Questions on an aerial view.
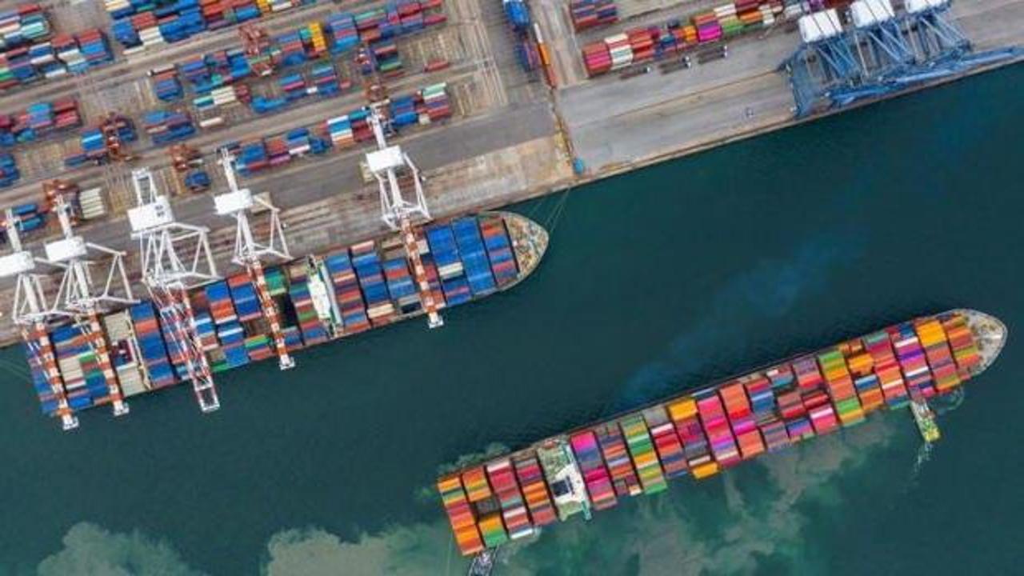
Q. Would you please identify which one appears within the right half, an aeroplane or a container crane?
container crane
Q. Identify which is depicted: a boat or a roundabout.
boat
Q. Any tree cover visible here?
No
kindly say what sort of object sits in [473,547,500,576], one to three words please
boat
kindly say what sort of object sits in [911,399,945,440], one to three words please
boat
